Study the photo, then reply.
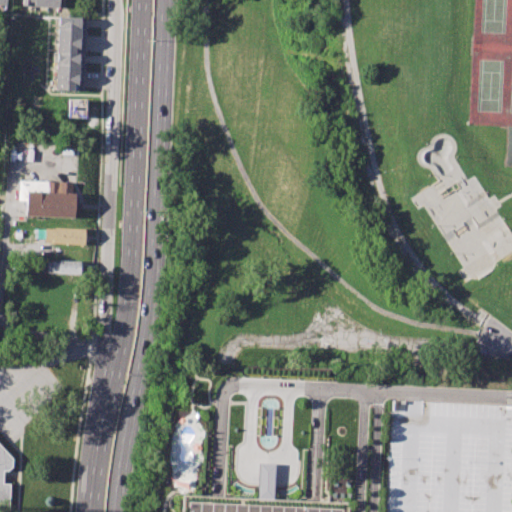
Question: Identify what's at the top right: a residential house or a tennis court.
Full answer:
There is a tennis court at the top right.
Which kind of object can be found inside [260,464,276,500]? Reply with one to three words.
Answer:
building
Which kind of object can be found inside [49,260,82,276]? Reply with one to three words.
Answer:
house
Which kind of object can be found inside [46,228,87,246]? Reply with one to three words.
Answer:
house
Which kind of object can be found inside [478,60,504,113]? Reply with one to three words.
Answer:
tennis court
